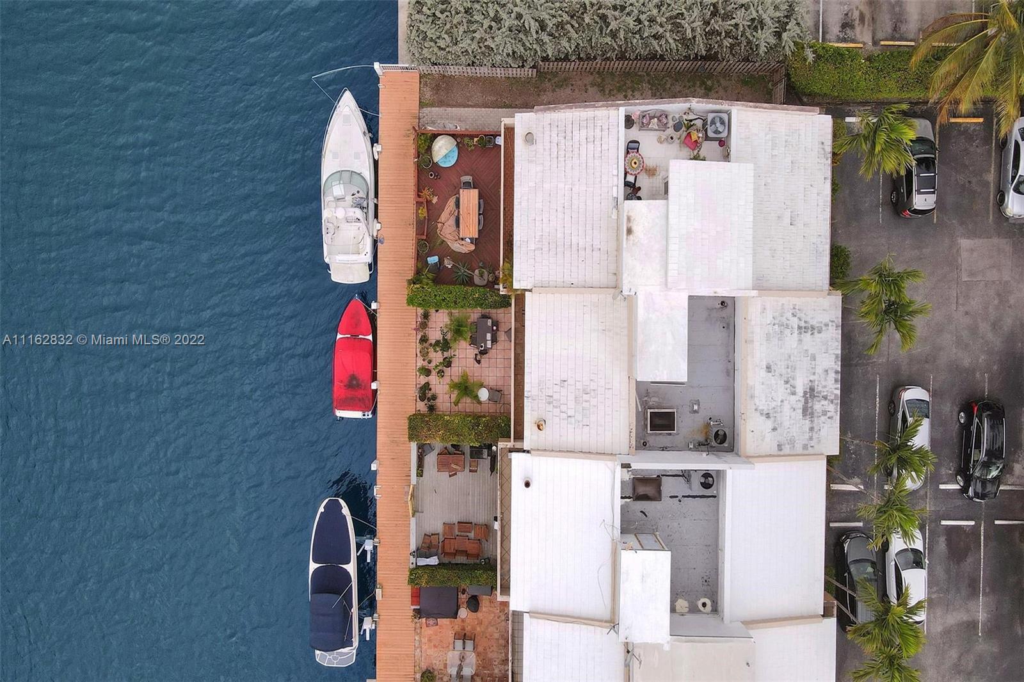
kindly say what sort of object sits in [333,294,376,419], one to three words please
boat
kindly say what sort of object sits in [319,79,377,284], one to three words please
boat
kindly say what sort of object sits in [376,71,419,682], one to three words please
pier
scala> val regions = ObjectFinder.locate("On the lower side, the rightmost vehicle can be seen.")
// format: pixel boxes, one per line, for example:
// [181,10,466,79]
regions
[954,398,1013,500]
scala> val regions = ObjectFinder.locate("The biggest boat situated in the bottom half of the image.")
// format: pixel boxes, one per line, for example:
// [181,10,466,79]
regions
[309,494,361,666]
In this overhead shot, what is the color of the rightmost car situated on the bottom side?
black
